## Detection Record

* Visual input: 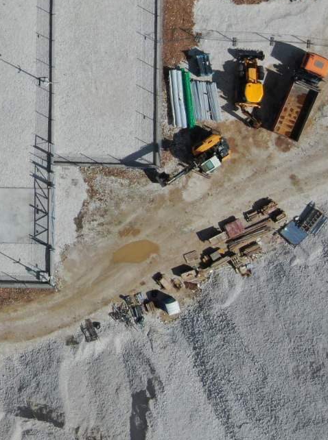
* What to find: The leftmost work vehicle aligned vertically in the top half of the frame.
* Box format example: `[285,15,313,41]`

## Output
[230,47,263,133]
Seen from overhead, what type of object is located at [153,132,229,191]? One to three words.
work vehicle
